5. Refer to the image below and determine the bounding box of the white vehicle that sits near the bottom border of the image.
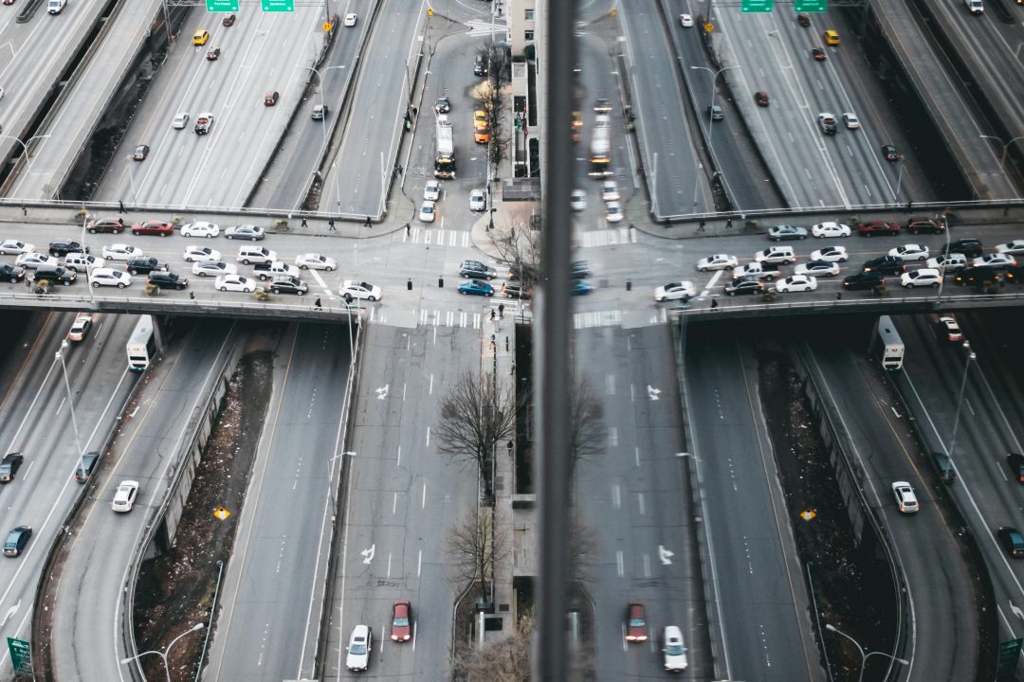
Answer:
[345,624,374,668]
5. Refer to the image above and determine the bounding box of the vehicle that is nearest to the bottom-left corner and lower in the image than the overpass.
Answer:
[2,526,33,559]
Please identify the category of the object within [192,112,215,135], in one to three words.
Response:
truck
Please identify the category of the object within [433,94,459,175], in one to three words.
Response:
bus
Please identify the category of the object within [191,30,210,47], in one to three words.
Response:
car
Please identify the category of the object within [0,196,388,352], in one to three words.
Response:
overpass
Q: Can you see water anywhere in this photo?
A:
No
